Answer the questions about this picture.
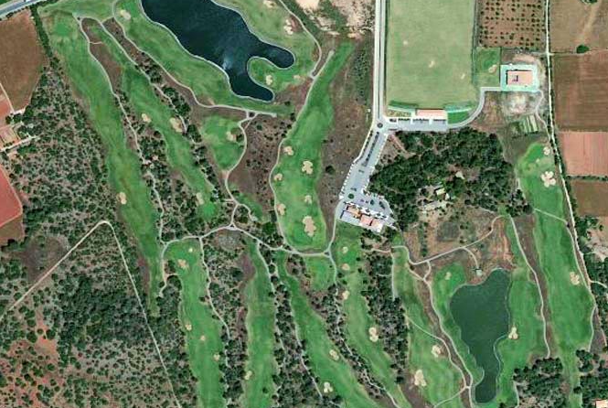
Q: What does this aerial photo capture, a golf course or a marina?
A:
golf course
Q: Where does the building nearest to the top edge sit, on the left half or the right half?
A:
right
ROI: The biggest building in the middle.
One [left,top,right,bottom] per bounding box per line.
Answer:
[337,200,386,234]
